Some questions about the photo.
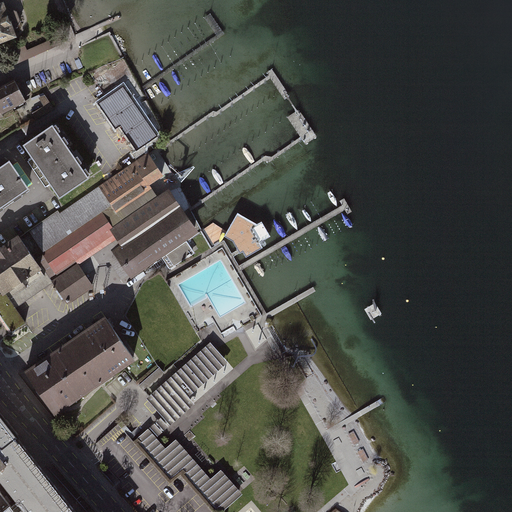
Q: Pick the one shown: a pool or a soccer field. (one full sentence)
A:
I can see a pool in this picture.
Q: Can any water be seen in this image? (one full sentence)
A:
Yes, there is water in the image.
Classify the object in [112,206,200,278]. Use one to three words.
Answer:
building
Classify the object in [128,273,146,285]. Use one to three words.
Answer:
vehicle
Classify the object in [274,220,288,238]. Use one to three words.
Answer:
boat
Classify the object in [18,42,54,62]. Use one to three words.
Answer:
shed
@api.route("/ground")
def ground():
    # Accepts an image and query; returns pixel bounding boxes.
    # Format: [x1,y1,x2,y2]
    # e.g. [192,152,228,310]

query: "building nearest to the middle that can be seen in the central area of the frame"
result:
[226,214,270,256]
